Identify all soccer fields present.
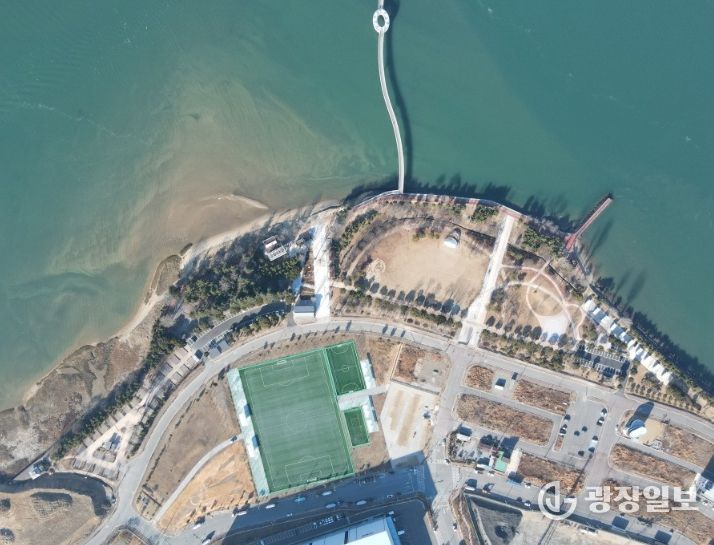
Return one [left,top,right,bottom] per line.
[326,340,365,394]
[344,408,368,445]
[238,348,354,493]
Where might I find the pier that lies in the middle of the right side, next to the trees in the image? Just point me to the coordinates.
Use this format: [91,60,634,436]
[563,195,615,250]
